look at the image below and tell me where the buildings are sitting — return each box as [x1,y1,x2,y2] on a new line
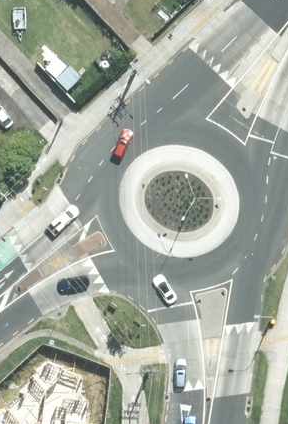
[56,65,81,90]
[0,356,95,424]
